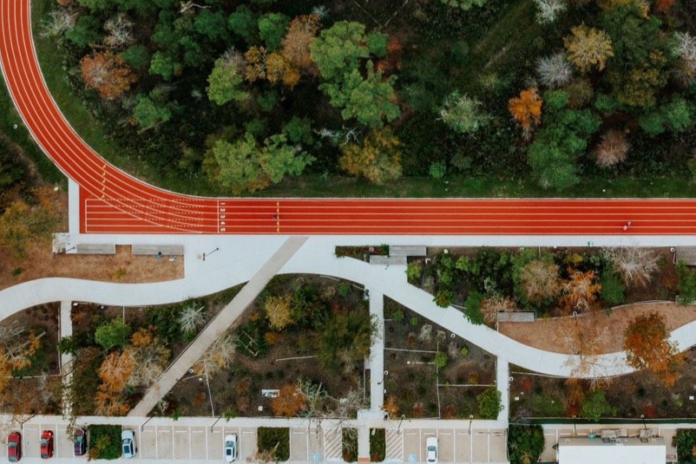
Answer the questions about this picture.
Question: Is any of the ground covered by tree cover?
Yes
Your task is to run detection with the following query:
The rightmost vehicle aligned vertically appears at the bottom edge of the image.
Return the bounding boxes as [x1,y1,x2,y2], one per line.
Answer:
[426,436,439,464]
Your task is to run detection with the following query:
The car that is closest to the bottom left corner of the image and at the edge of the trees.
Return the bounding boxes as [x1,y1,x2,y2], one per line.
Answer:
[8,431,23,460]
